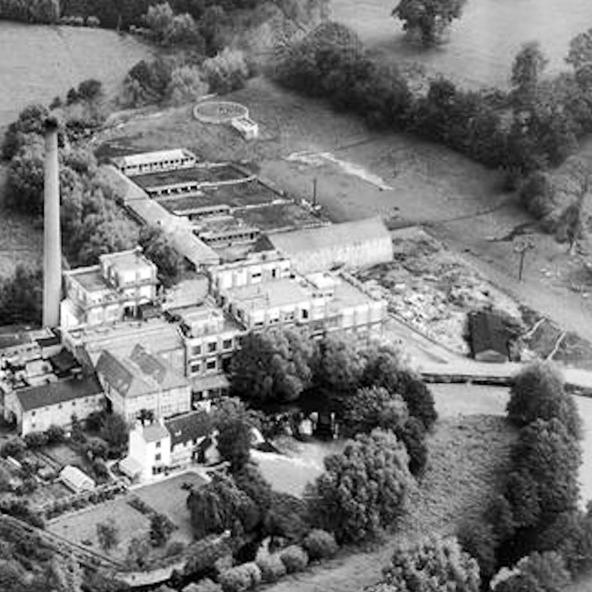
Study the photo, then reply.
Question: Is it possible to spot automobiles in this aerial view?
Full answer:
No, no automobile is visible in the scene.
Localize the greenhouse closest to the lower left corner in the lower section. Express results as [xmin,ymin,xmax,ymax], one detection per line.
[62,464,99,496]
